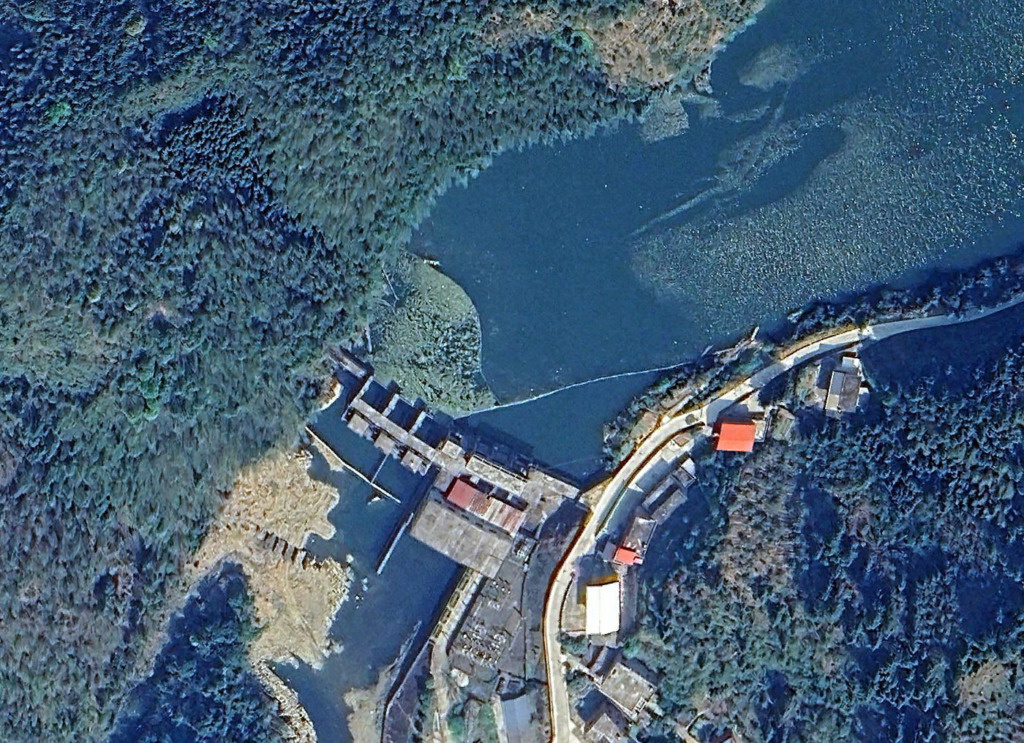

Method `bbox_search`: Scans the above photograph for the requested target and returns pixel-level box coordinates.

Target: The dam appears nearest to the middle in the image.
[329,349,580,540]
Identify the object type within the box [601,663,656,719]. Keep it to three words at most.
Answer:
house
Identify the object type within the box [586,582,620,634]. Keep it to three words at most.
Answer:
building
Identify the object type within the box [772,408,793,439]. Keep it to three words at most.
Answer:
building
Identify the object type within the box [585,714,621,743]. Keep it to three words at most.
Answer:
house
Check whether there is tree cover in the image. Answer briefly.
Yes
